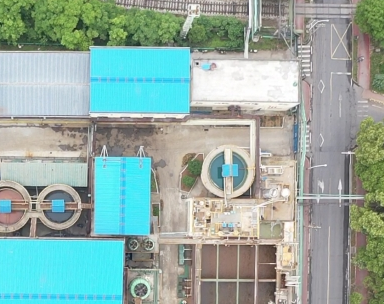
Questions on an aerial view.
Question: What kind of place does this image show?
industrial area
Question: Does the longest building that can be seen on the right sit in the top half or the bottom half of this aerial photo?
top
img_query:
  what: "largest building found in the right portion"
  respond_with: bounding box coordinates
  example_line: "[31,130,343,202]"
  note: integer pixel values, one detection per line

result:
[190,59,299,110]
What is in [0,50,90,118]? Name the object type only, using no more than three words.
building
